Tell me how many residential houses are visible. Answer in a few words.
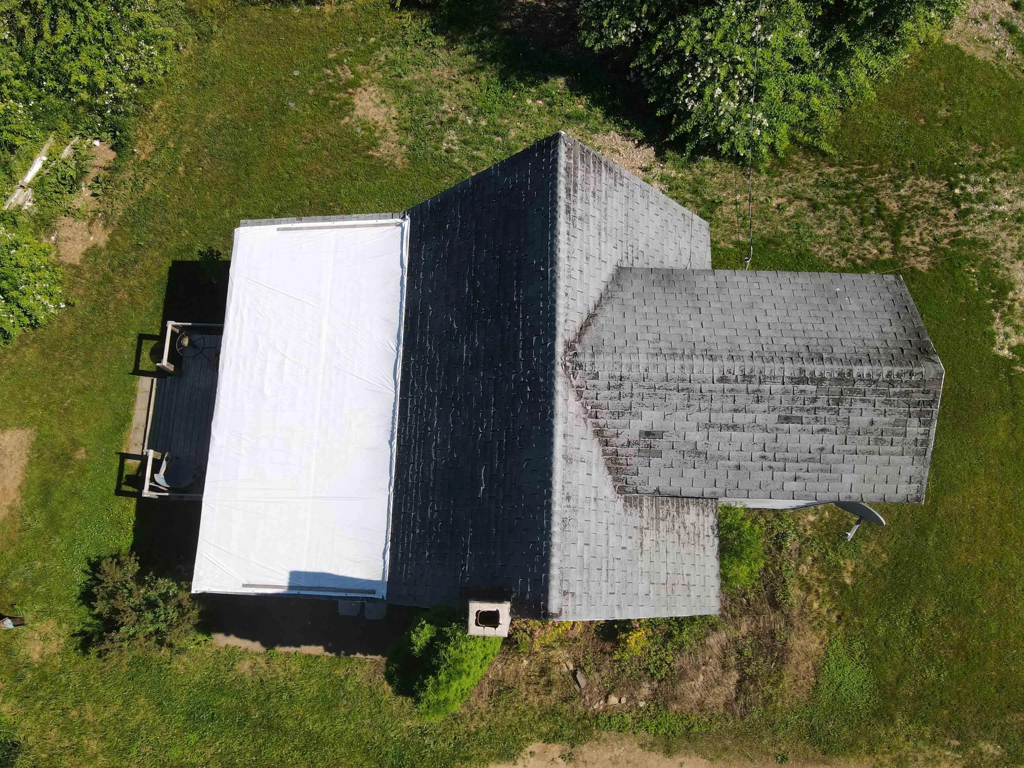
one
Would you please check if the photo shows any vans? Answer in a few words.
No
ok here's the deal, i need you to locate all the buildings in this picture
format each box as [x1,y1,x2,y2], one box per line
[201,131,946,636]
